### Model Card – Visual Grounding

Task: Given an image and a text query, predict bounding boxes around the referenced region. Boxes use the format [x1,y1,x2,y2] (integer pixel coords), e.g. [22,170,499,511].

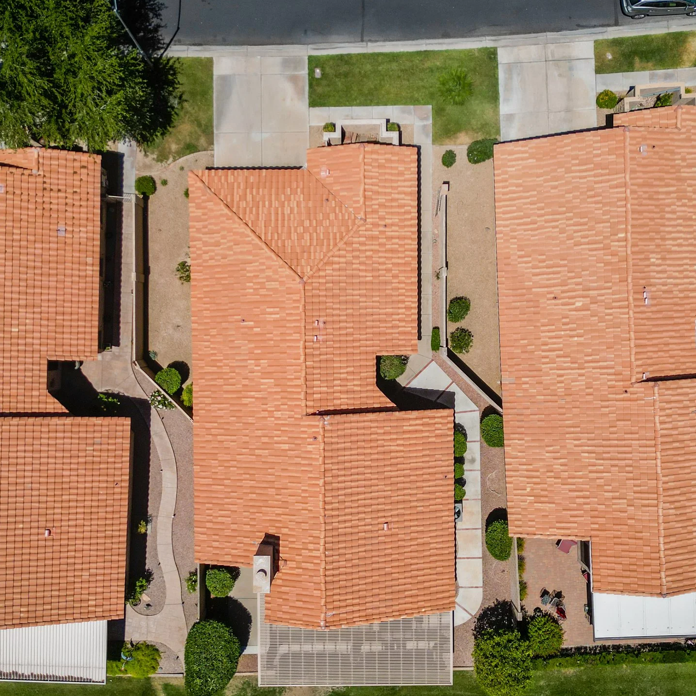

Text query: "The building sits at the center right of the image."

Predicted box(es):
[495,102,696,595]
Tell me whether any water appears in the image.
No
